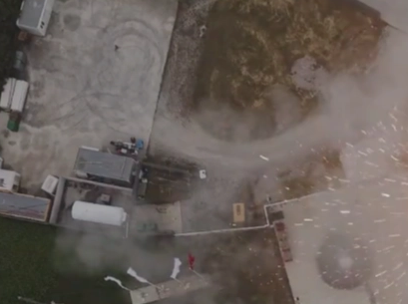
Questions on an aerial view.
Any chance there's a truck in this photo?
Yes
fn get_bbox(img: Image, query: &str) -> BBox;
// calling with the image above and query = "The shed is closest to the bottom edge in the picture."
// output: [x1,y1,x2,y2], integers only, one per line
[0,190,54,220]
